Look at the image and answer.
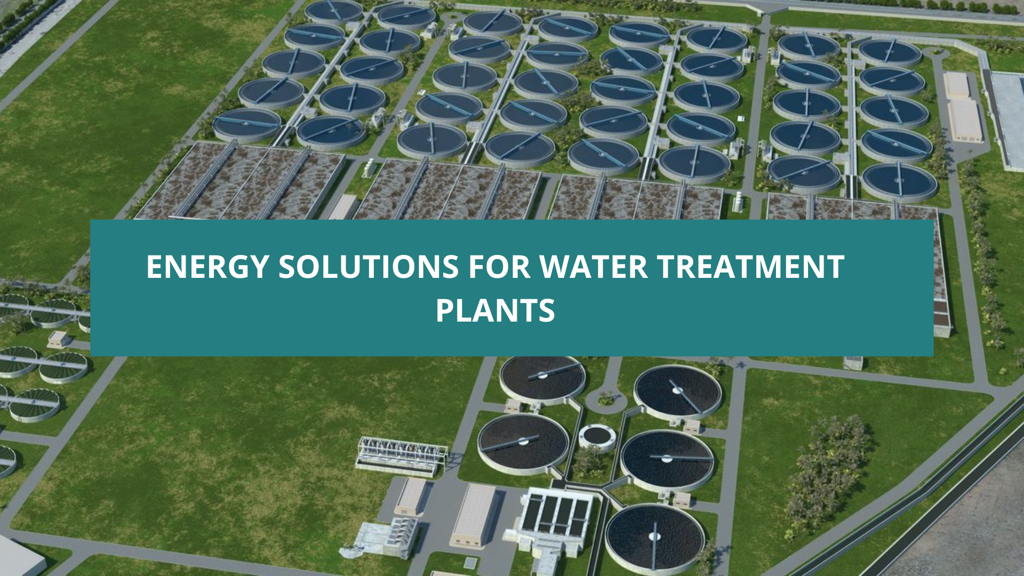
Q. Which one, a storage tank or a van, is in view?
storage tank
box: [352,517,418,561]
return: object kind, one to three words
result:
house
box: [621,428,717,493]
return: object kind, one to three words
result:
storage tank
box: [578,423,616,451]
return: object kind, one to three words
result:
storage tank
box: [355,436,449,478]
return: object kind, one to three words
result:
building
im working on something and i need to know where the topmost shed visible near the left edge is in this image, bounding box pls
[46,329,70,349]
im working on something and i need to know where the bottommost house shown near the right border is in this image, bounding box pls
[947,99,983,145]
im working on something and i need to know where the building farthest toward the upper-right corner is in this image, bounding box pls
[942,71,970,102]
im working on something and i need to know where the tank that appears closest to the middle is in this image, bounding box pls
[500,350,586,406]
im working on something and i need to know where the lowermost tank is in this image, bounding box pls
[605,501,706,576]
